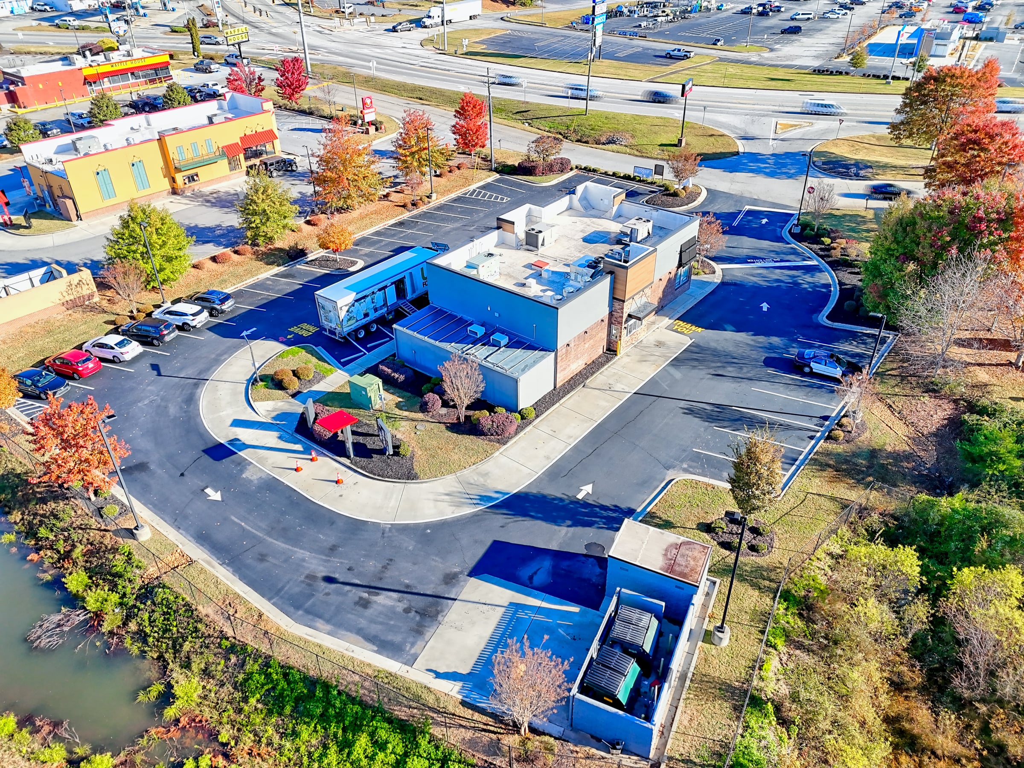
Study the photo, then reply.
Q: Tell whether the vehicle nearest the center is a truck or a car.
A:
truck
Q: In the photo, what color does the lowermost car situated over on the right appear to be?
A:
blue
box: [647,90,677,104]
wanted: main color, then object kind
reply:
blue car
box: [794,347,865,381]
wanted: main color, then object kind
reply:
blue car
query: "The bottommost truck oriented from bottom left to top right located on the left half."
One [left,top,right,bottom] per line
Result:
[314,244,447,344]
